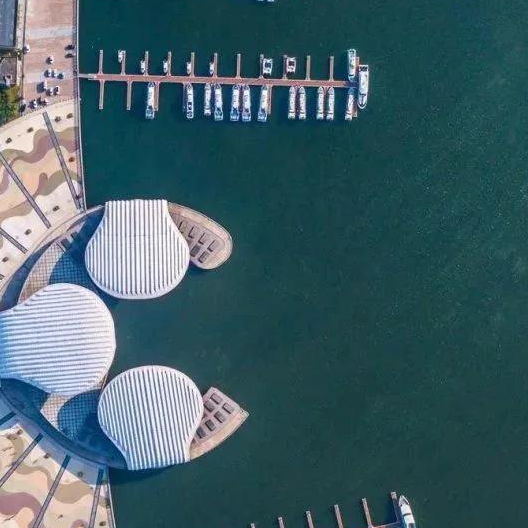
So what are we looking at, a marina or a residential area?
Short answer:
marina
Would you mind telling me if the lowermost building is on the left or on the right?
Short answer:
left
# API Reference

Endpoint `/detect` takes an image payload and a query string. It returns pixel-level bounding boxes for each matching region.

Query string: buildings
[0,282,116,395]
[0,57,17,87]
[85,199,189,299]
[98,365,203,469]
[0,0,19,53]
